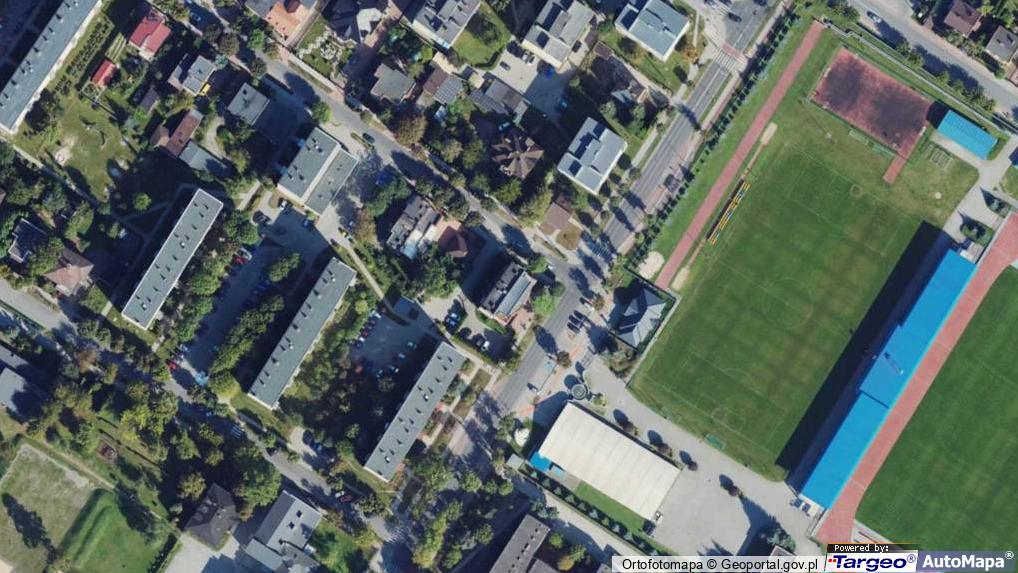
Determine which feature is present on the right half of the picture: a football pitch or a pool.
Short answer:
football pitch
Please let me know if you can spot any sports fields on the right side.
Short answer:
Yes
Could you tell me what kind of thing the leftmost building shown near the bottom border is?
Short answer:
home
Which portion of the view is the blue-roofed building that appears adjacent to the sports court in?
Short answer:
top right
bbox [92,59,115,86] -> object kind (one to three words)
shed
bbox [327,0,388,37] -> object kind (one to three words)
house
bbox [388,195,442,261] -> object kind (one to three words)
house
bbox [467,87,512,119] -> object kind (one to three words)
building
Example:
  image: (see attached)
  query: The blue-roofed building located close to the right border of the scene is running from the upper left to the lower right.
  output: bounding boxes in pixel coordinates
[936,109,997,161]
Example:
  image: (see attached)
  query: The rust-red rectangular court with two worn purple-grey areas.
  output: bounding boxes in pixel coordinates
[808,47,933,184]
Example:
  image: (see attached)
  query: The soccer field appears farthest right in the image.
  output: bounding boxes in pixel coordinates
[855,264,1018,573]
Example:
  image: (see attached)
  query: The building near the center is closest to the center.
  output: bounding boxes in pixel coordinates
[479,262,536,326]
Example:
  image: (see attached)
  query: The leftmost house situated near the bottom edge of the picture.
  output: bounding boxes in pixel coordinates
[186,483,237,551]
